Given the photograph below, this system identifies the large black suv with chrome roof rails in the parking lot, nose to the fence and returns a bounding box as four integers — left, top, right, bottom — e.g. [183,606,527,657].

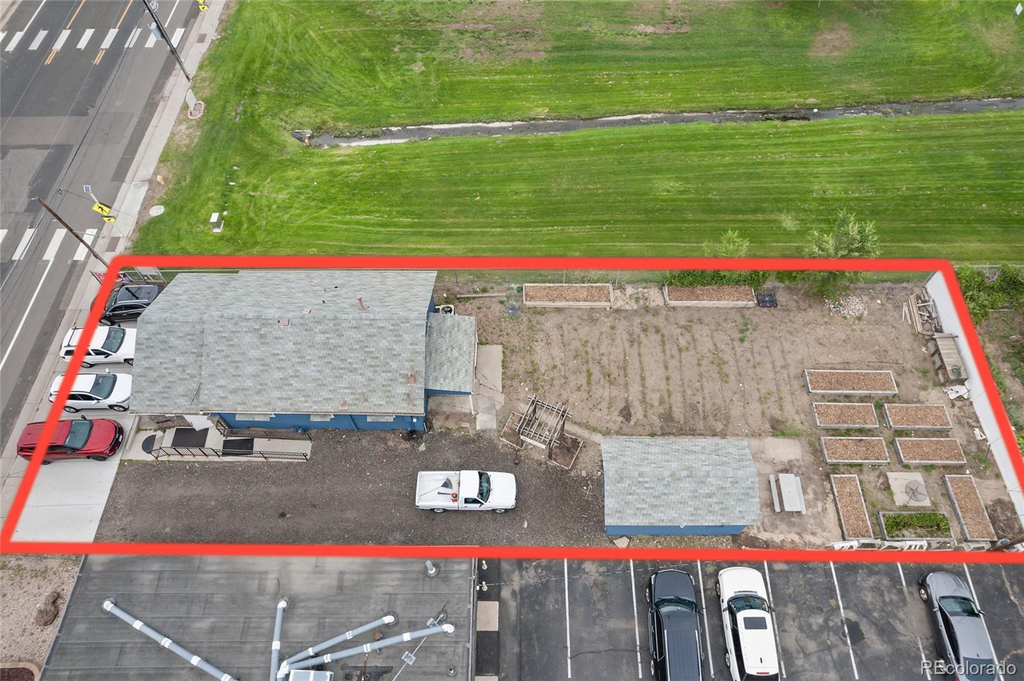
[645,570,704,681]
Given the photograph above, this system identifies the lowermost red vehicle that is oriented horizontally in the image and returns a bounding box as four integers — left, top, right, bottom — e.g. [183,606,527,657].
[20,416,123,465]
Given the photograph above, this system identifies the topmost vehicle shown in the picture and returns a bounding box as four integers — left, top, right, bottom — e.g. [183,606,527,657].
[93,281,168,326]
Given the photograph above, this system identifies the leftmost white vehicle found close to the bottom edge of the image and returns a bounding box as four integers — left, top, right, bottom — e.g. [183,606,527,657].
[716,568,780,681]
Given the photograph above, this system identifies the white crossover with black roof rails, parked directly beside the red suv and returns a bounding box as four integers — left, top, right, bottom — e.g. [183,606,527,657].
[50,371,135,413]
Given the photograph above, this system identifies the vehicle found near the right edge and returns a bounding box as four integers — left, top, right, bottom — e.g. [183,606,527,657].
[919,572,998,681]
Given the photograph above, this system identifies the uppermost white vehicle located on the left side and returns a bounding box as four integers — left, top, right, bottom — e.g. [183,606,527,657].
[65,329,139,369]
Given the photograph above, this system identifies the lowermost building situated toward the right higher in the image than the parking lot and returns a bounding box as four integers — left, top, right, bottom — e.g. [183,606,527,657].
[599,437,760,537]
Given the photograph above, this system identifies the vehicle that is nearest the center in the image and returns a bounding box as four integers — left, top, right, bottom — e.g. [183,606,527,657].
[412,465,520,514]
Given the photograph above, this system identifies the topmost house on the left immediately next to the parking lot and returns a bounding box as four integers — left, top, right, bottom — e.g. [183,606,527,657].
[130,267,479,436]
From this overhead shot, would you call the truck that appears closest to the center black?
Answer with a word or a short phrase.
No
